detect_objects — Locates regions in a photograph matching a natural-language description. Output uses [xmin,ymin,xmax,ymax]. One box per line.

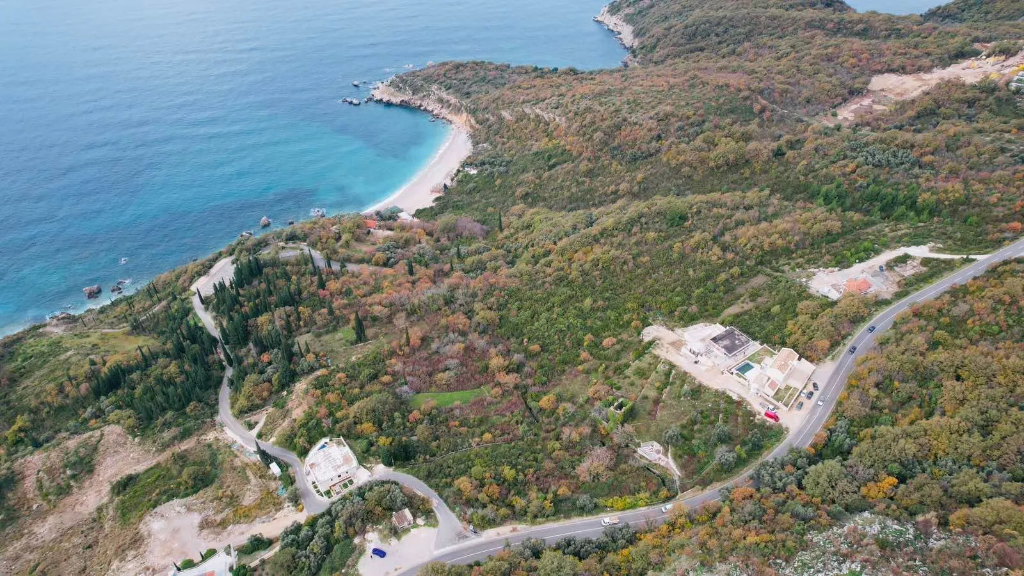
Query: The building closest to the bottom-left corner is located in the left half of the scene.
[179,543,237,576]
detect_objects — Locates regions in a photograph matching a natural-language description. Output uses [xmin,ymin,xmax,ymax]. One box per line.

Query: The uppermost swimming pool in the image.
[732,361,764,381]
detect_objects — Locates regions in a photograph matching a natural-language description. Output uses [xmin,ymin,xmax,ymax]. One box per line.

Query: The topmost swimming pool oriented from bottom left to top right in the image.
[310,438,333,460]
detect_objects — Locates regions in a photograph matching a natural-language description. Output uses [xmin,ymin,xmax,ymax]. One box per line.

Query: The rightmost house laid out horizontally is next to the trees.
[817,276,888,303]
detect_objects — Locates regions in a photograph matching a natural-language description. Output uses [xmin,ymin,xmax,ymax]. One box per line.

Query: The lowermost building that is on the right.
[636,440,678,475]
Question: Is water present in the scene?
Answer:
Yes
